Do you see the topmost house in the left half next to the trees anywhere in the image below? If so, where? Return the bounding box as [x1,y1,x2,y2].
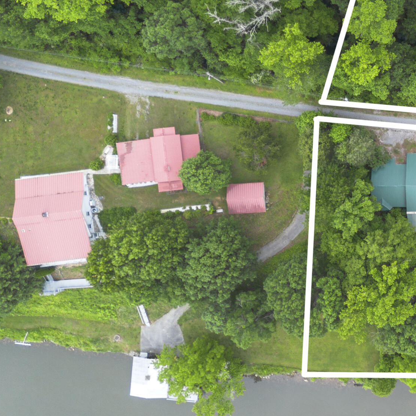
[117,127,203,192]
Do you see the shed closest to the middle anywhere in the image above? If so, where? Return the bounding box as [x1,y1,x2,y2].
[227,182,267,213]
